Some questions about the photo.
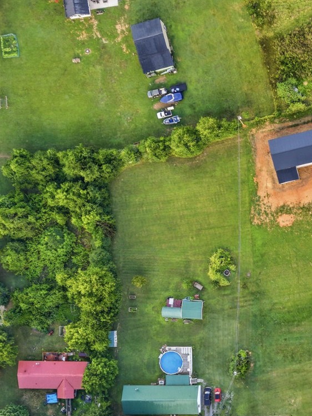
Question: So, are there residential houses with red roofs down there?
Yes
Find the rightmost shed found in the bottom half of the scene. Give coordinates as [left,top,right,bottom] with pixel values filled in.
[182,301,204,319]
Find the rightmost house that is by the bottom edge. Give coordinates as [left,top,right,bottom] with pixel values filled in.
[120,374,201,415]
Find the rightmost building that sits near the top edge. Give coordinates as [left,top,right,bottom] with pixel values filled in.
[131,19,174,75]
